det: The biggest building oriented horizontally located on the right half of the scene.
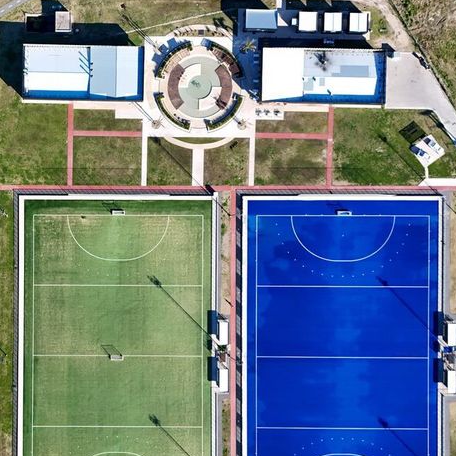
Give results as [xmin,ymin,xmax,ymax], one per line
[250,47,388,107]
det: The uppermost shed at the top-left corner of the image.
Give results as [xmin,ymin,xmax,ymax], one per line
[55,11,71,34]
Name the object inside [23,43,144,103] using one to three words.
building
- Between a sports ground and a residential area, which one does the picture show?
sports ground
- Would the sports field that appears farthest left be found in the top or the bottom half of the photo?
bottom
